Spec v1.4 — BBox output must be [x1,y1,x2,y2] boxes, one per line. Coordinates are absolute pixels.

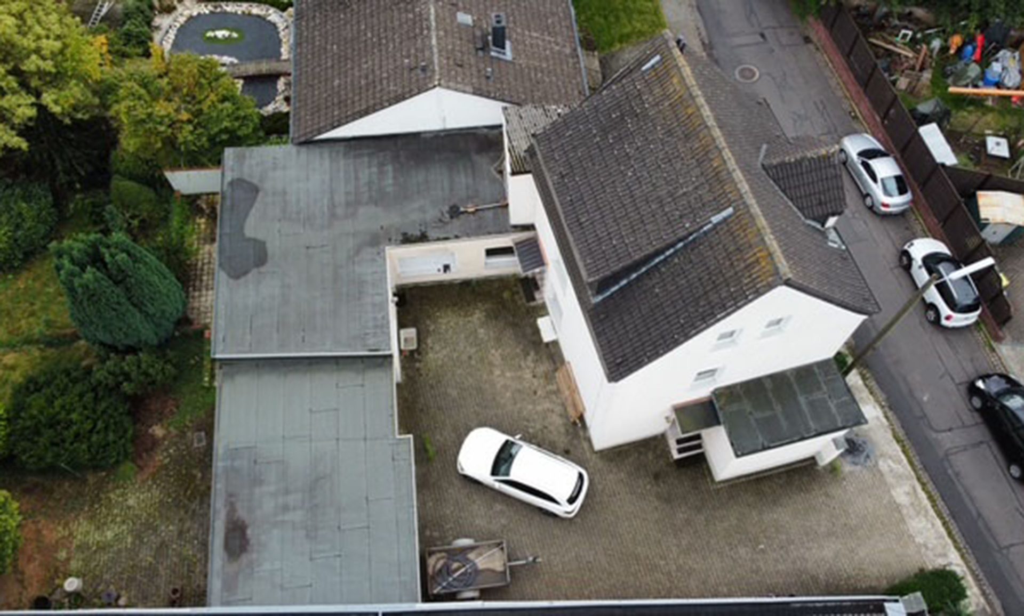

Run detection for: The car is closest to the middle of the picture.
[461,437,587,518]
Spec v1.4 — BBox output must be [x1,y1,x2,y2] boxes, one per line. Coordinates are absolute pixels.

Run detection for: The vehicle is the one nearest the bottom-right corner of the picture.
[972,371,1024,484]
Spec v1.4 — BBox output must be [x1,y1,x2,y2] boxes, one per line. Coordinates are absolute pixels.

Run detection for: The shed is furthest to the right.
[970,191,1024,248]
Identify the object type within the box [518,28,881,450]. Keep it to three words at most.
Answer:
house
